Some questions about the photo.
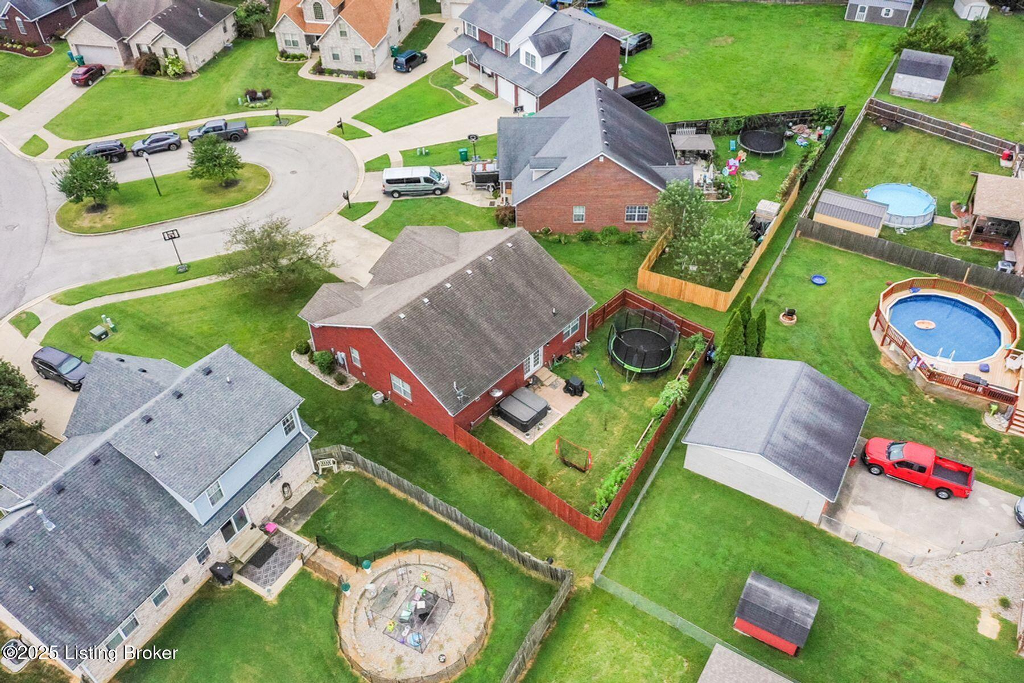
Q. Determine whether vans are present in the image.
Yes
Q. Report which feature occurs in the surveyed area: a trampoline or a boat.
trampoline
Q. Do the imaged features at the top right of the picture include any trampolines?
Yes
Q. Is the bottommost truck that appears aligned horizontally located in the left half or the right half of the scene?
right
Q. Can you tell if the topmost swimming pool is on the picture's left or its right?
right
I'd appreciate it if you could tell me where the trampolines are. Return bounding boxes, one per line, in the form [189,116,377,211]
[737,129,788,160]
[607,305,678,388]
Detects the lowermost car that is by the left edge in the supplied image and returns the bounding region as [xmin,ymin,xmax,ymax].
[27,343,88,394]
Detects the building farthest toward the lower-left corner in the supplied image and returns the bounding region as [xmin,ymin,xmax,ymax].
[0,346,321,683]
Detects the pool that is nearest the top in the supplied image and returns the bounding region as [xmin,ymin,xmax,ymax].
[864,181,942,229]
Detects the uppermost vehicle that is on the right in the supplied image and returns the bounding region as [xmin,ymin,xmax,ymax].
[619,32,657,56]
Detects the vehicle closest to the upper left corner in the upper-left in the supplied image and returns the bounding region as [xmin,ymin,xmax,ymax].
[68,66,112,88]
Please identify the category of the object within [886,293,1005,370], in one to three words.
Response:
swimming pool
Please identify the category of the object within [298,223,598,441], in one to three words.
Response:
house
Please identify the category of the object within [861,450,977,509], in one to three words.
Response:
truck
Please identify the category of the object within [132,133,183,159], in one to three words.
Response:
car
